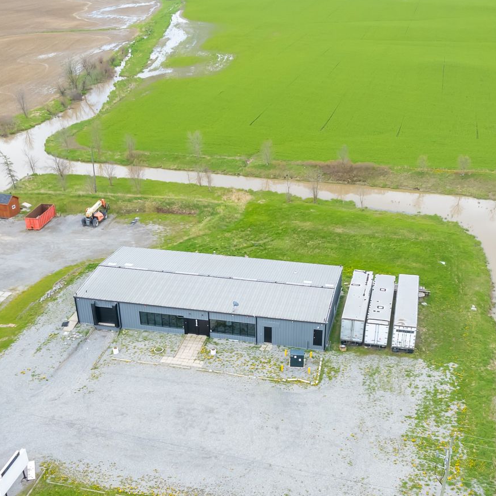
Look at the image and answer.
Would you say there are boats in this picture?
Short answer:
No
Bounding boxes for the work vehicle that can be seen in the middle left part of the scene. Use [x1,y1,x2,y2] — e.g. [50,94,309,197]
[84,195,109,225]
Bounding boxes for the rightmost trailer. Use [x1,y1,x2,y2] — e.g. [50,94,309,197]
[391,274,420,354]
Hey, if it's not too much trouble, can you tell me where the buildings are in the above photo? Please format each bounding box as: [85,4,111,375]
[71,246,344,352]
[0,194,21,218]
